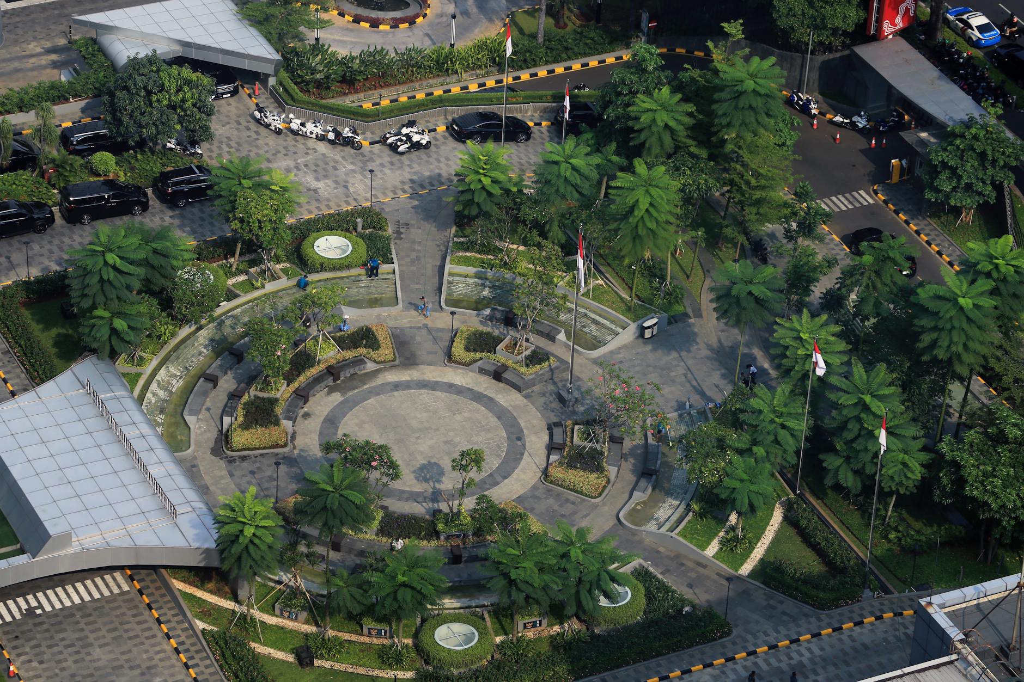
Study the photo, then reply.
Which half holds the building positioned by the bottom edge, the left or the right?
right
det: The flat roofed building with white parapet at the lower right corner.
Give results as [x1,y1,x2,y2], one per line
[909,559,1024,682]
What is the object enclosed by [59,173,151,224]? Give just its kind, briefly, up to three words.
car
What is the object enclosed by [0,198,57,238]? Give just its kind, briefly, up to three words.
car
